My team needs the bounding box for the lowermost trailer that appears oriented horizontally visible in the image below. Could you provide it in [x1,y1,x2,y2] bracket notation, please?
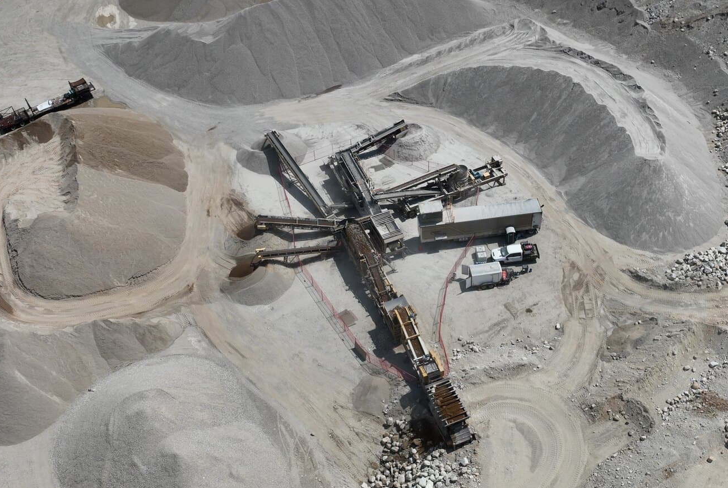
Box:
[458,260,521,291]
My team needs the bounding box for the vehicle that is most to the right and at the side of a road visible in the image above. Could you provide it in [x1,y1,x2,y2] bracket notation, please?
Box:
[492,245,547,266]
